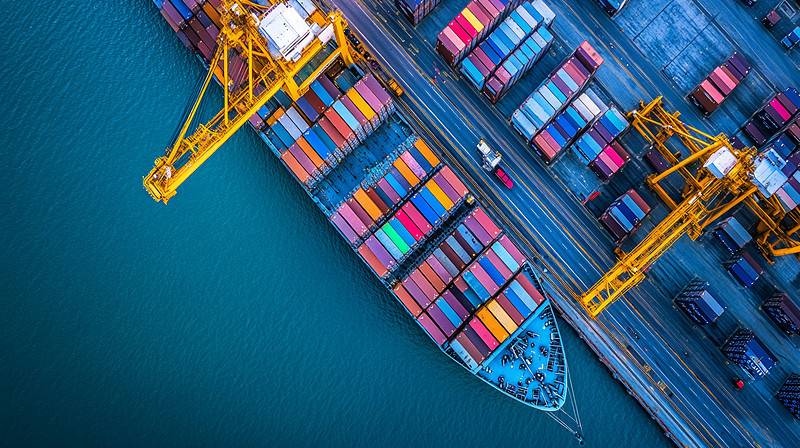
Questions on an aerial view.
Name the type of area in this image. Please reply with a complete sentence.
The area seen from above is a port.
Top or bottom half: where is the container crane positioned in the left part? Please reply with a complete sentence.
You can find the container crane positioned in the left part in the top half.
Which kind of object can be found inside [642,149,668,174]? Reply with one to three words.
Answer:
shipping container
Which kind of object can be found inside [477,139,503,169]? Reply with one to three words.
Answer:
truck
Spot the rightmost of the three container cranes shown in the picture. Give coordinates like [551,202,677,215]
[720,144,800,262]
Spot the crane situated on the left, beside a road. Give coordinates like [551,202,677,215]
[130,0,368,213]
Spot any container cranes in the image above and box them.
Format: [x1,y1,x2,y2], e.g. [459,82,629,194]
[720,144,800,262]
[573,86,800,322]
[130,0,368,213]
